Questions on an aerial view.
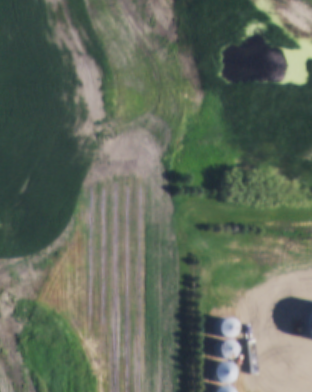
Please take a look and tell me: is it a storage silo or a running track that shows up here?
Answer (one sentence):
It is a storage silo that can be seen here.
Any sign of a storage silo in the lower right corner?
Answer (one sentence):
Yes, the scene does show a storage silo in the lower right corner.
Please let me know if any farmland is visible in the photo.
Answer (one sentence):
Yes, farmland can be seen from above here.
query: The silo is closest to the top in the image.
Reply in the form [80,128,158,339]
[218,317,242,338]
